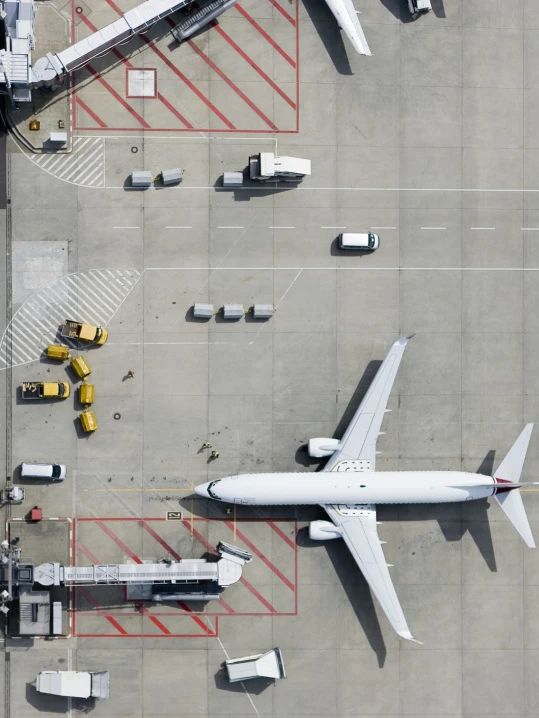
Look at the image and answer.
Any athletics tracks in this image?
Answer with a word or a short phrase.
No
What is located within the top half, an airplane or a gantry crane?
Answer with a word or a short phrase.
airplane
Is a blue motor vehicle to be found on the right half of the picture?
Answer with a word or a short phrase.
No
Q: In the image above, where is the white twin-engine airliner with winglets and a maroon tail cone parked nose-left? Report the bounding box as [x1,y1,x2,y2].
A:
[194,333,539,641]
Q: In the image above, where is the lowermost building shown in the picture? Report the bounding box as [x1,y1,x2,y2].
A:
[20,583,53,634]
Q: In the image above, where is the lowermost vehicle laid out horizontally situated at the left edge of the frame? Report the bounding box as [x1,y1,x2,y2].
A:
[20,461,67,481]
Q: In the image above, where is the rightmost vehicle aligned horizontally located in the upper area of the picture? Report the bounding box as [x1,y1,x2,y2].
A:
[336,231,380,251]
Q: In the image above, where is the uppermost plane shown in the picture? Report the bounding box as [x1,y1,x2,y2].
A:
[328,0,370,55]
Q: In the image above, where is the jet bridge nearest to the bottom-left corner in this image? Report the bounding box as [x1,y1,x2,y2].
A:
[32,543,255,600]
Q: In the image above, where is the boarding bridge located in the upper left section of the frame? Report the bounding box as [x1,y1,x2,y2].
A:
[32,0,243,86]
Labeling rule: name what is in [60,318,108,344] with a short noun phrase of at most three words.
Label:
truck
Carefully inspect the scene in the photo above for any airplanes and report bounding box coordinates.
[328,0,370,55]
[194,333,539,641]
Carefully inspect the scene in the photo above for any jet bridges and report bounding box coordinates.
[32,543,255,600]
[32,0,243,86]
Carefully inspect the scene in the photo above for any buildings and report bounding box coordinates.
[20,583,53,634]
[0,0,39,106]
